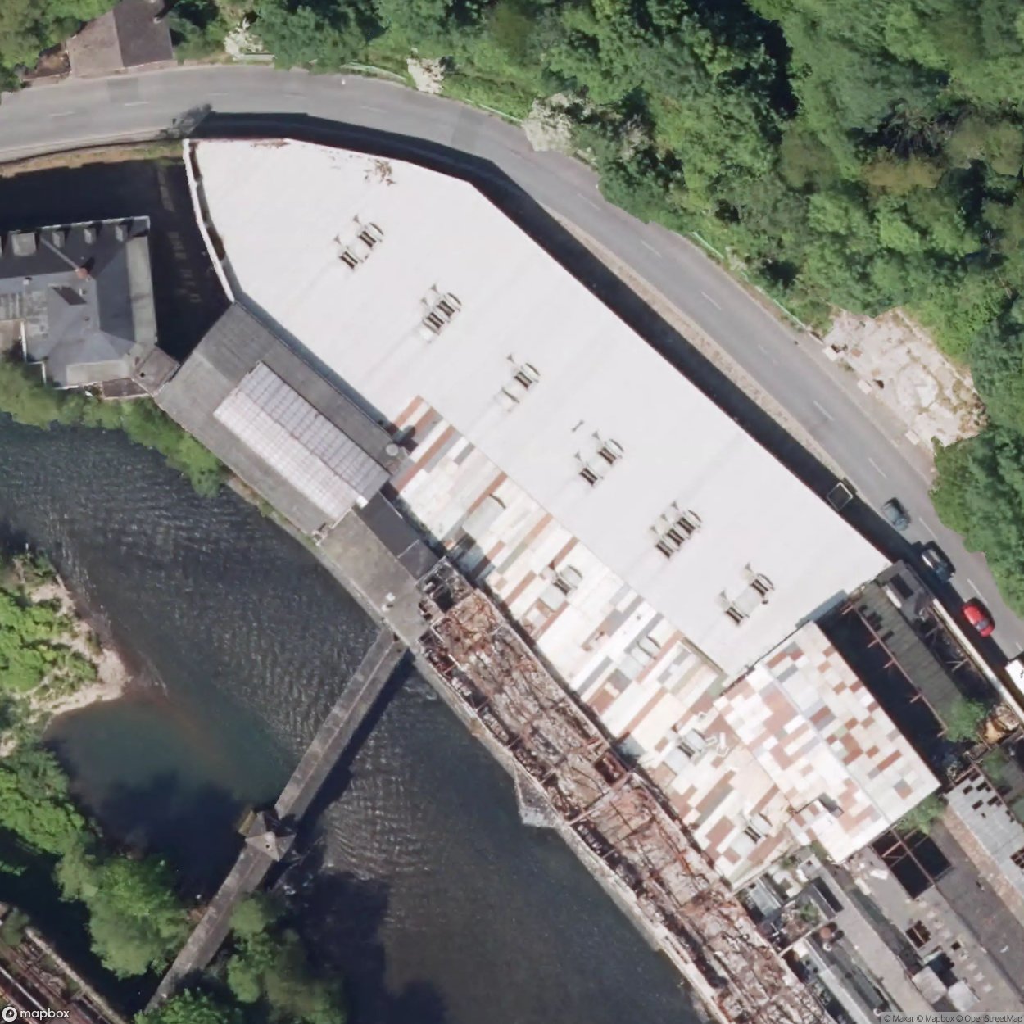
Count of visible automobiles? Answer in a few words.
three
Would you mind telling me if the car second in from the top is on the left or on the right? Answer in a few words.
right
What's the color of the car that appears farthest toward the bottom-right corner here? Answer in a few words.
red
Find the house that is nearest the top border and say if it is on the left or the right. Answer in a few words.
left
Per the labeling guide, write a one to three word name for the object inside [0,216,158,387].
house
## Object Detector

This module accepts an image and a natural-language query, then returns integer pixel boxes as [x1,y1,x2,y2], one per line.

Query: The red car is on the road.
[962,599,995,636]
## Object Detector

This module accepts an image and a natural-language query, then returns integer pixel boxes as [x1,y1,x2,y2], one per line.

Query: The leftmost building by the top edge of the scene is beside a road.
[68,0,175,77]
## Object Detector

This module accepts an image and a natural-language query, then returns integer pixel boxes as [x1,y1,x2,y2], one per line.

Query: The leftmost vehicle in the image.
[880,496,911,532]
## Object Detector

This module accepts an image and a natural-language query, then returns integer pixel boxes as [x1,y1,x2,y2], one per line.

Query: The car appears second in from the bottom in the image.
[922,546,955,584]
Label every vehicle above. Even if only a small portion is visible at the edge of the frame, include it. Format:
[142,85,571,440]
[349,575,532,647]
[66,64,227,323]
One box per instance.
[962,599,995,636]
[880,496,911,532]
[922,546,955,584]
